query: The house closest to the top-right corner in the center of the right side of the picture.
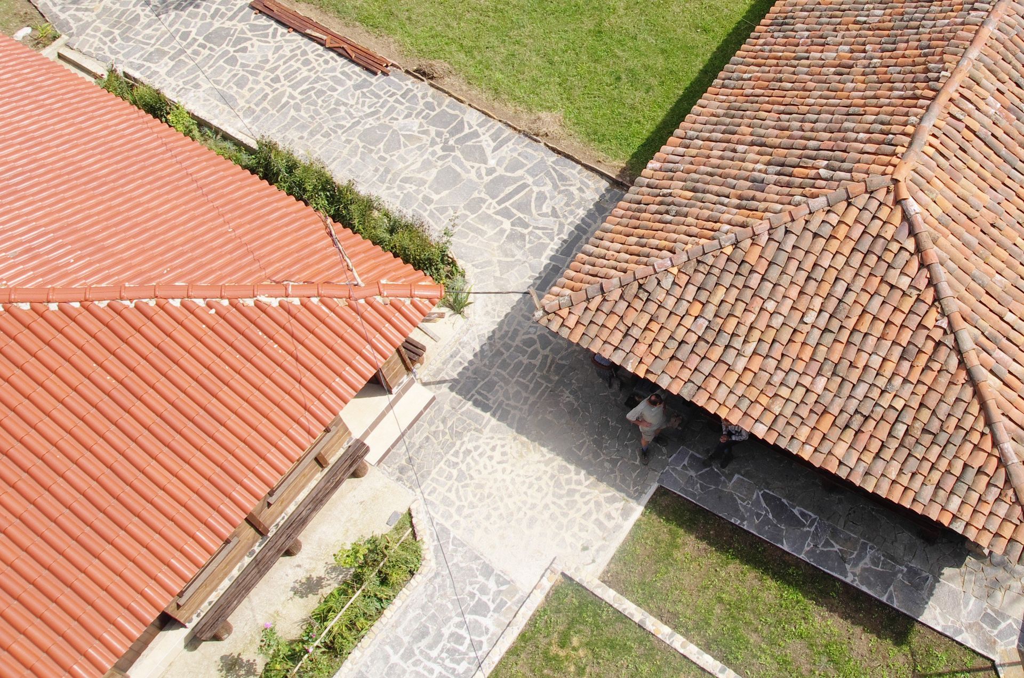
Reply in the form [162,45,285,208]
[534,0,1024,570]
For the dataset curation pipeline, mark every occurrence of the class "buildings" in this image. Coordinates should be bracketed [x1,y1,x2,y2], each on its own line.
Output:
[0,27,447,678]
[534,0,1024,570]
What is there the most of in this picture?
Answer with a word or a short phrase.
buildings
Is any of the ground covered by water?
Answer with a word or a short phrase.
No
